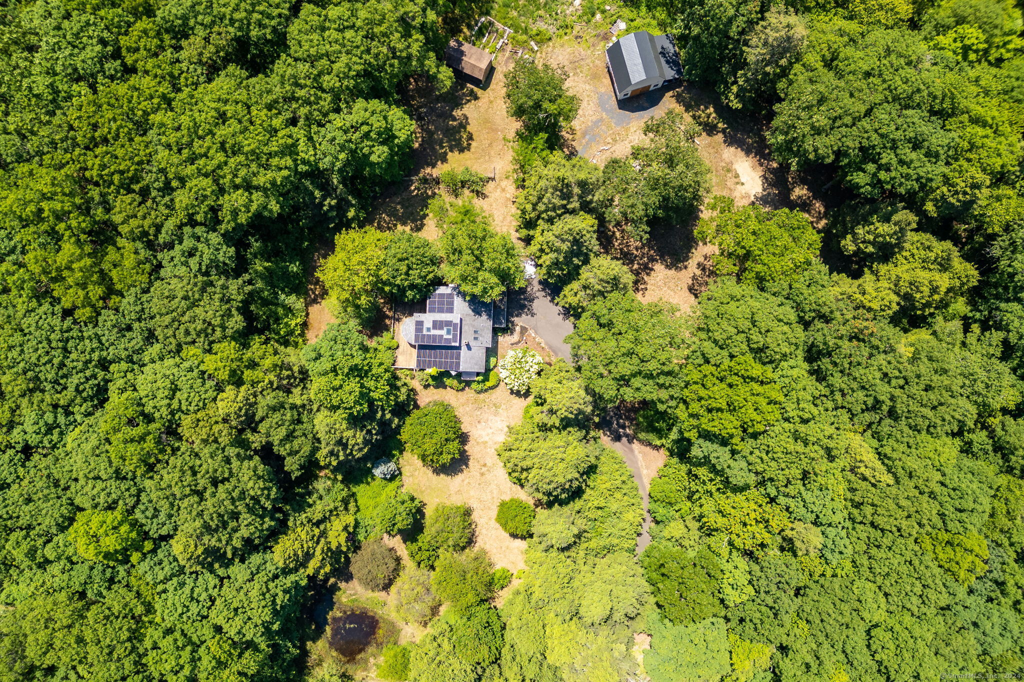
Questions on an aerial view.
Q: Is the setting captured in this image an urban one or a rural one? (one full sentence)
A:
The land in this view is best described as rural.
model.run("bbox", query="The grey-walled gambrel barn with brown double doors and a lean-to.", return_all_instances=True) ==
[605,31,680,100]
